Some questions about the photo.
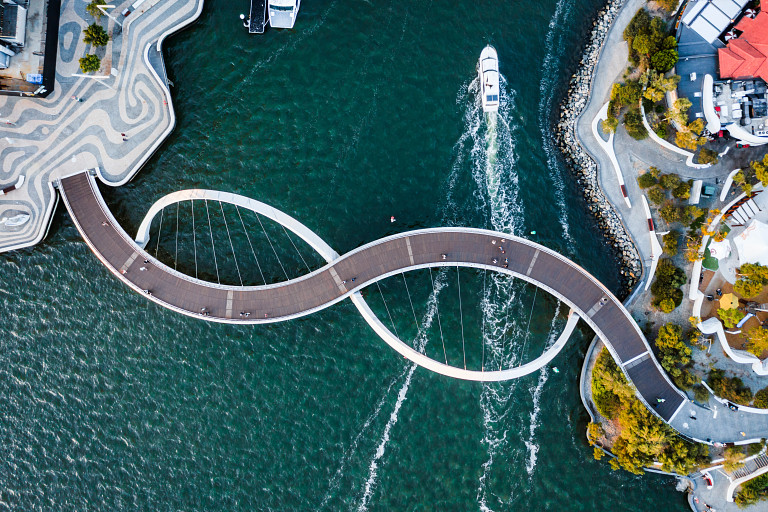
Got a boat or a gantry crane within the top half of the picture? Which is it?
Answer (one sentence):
Looking within the top half of the picture, you will find a boat.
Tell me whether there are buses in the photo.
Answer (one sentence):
No, the picture doesn't show any bus.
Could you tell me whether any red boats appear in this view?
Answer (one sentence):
No, this view has no red boat in it.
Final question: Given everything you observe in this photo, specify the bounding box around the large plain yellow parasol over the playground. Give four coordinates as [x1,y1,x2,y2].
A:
[719,291,740,310]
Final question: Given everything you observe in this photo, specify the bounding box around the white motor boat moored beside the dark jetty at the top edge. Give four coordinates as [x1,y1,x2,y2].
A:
[269,0,297,29]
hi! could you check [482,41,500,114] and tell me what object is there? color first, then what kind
white boat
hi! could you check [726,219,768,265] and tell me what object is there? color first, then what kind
white tent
